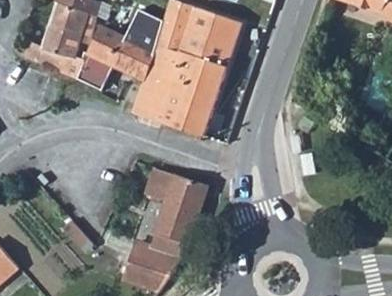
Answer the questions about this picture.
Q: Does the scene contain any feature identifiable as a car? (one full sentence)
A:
Yes, there's a car here.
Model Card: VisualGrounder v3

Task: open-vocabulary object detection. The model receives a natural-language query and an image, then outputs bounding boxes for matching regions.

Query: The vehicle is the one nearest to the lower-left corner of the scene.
[98,169,118,181]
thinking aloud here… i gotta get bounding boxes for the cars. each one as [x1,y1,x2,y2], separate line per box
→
[237,255,248,275]
[238,176,249,198]
[98,169,118,181]
[5,64,22,85]
[0,0,6,19]
[270,199,288,220]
